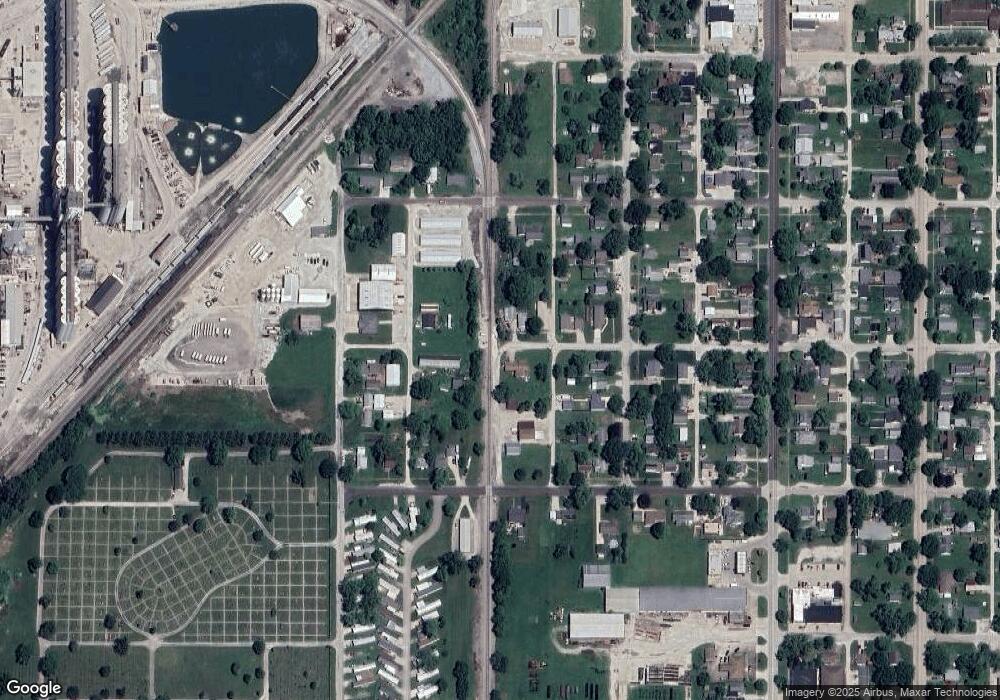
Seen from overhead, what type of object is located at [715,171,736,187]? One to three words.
house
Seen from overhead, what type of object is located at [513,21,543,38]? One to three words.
building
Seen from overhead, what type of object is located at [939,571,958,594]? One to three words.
house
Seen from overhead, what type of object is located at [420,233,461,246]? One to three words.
shed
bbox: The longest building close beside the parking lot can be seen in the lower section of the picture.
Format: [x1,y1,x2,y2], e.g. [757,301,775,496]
[639,587,747,613]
